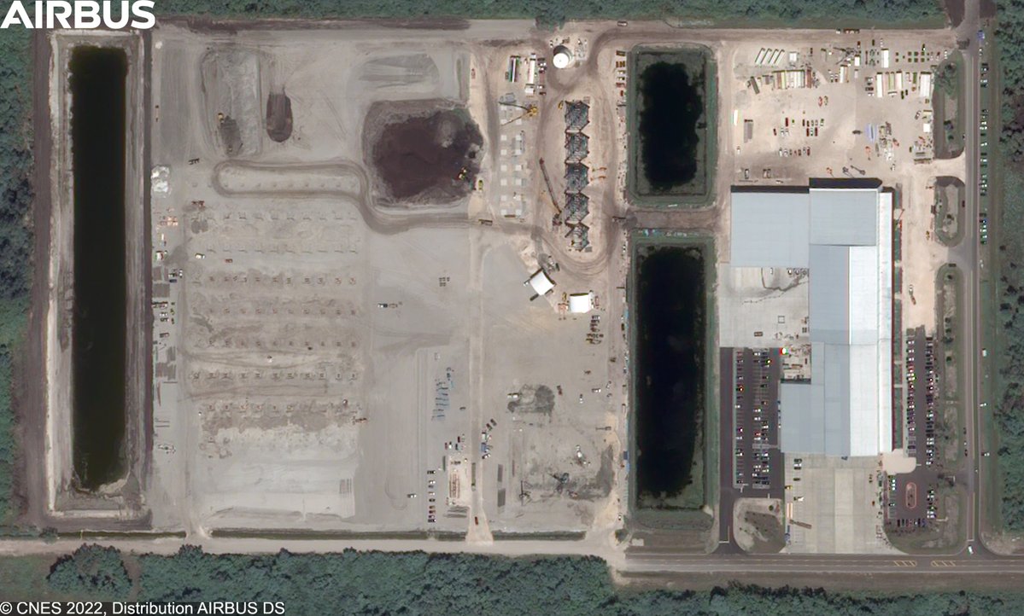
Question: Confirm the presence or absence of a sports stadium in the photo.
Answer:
No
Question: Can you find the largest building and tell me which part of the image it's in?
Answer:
right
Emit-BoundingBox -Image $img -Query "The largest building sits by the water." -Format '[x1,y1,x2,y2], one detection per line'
[733,181,898,456]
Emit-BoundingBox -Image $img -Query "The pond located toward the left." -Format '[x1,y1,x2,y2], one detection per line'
[72,46,128,486]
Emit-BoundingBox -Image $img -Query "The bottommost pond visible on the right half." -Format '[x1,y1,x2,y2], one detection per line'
[636,244,705,500]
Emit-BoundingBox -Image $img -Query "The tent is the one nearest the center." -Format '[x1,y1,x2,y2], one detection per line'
[530,268,558,295]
